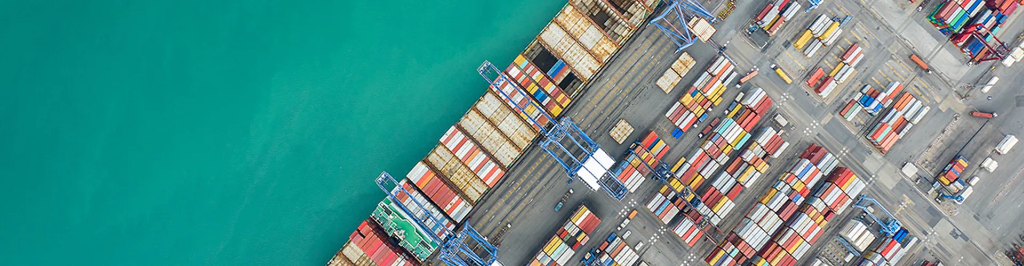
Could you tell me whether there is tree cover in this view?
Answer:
No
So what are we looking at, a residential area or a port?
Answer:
port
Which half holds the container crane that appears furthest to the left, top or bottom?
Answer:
bottom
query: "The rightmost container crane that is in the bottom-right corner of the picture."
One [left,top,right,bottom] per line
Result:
[846,196,905,242]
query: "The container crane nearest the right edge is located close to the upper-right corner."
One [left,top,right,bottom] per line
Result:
[948,24,1007,65]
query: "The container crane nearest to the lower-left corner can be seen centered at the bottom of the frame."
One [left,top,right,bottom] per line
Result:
[374,171,510,266]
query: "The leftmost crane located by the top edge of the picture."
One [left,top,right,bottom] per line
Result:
[647,0,742,70]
